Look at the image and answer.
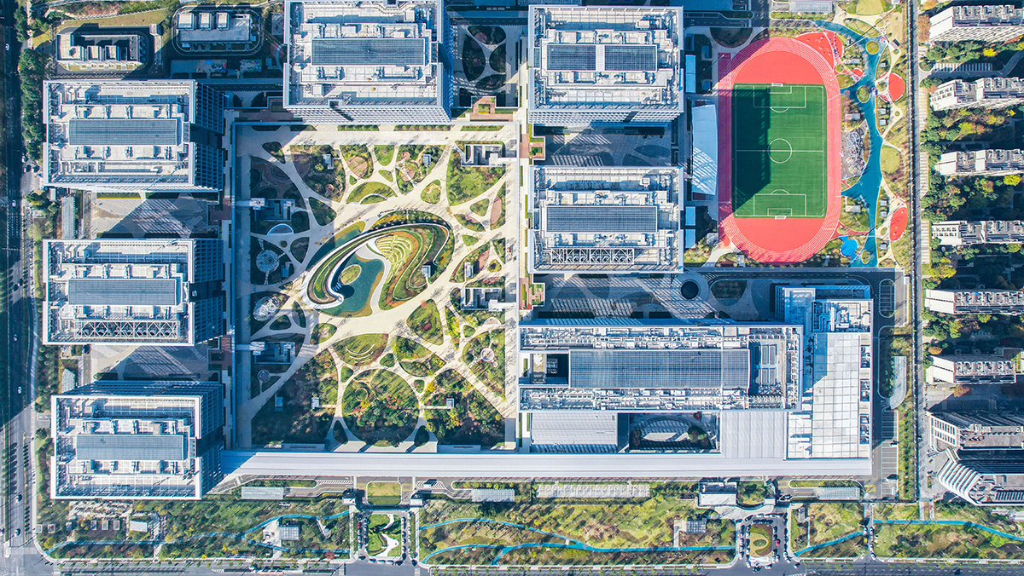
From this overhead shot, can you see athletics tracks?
Yes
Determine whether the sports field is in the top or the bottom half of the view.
top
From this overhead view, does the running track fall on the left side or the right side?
right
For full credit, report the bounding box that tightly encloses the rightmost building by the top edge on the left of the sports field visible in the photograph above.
[528,5,684,126]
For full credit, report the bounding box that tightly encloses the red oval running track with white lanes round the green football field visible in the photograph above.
[718,36,841,264]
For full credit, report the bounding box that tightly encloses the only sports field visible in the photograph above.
[733,83,827,218]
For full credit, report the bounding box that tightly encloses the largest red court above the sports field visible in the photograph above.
[795,31,833,65]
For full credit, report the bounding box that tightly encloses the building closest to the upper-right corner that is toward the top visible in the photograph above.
[927,5,1024,38]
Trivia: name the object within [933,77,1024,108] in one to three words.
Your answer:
building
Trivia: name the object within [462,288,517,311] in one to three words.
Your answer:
building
